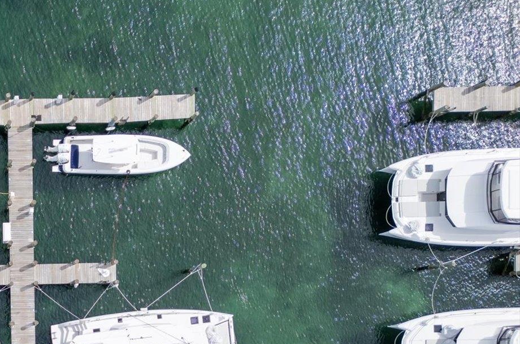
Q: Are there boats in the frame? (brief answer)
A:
Yes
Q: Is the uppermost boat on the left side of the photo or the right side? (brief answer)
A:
left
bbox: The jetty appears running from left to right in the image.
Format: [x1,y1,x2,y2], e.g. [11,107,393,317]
[420,77,520,121]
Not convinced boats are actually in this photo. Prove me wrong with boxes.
[371,147,520,247]
[51,310,237,344]
[381,303,520,344]
[41,135,191,175]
